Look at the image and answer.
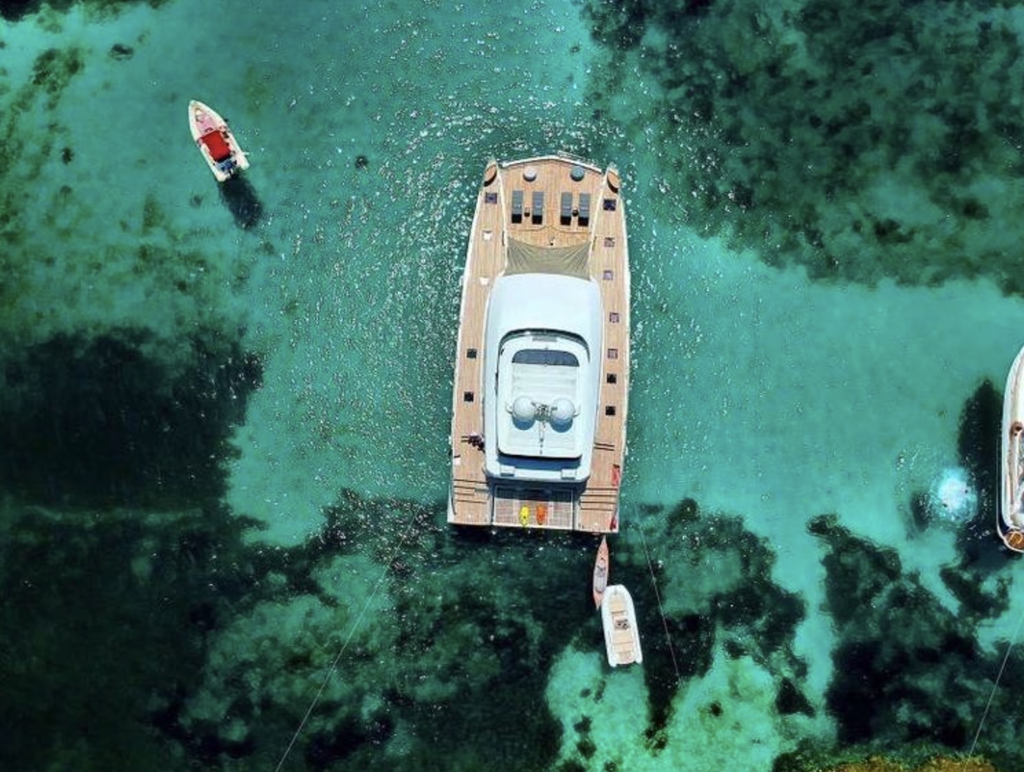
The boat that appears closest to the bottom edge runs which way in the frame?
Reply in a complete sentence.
In this picture, the boat that appears closest to the bottom edge lies up and down.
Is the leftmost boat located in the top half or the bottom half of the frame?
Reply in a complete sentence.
You can find the leftmost boat in the top half.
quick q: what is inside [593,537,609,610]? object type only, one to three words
boat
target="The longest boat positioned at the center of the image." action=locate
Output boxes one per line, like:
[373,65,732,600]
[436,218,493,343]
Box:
[448,150,630,529]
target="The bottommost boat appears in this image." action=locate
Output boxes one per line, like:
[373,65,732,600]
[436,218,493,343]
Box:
[604,587,643,671]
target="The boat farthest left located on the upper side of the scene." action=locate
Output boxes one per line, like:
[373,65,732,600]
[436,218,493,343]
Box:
[188,98,251,186]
